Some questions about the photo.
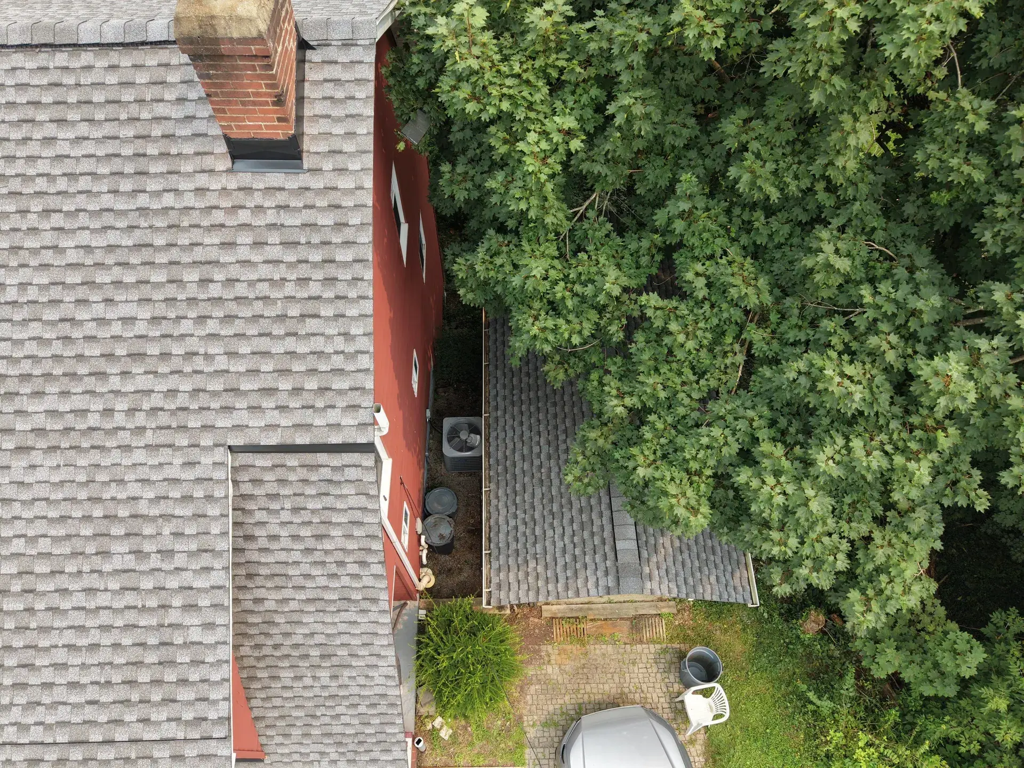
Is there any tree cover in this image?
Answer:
Yes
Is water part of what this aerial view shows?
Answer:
No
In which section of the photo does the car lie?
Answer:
bottom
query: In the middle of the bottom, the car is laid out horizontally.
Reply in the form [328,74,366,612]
[554,705,685,768]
